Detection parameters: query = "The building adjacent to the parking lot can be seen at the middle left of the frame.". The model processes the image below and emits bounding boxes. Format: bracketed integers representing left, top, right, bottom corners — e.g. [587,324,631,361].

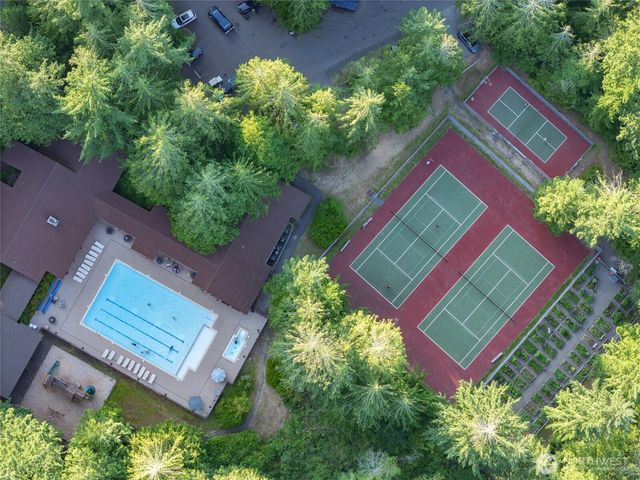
[0,111,311,314]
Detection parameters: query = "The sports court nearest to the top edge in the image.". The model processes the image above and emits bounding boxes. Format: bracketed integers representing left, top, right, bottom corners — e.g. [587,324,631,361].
[467,68,590,178]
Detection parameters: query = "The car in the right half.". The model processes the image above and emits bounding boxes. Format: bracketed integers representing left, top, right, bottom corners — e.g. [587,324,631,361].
[454,28,480,55]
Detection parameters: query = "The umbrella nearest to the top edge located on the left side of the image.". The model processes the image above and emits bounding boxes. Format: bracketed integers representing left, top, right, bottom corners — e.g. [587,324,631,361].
[211,368,226,382]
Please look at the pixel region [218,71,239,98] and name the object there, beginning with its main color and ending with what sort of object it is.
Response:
blue car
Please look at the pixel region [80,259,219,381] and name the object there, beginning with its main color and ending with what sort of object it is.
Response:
blue swimming pool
